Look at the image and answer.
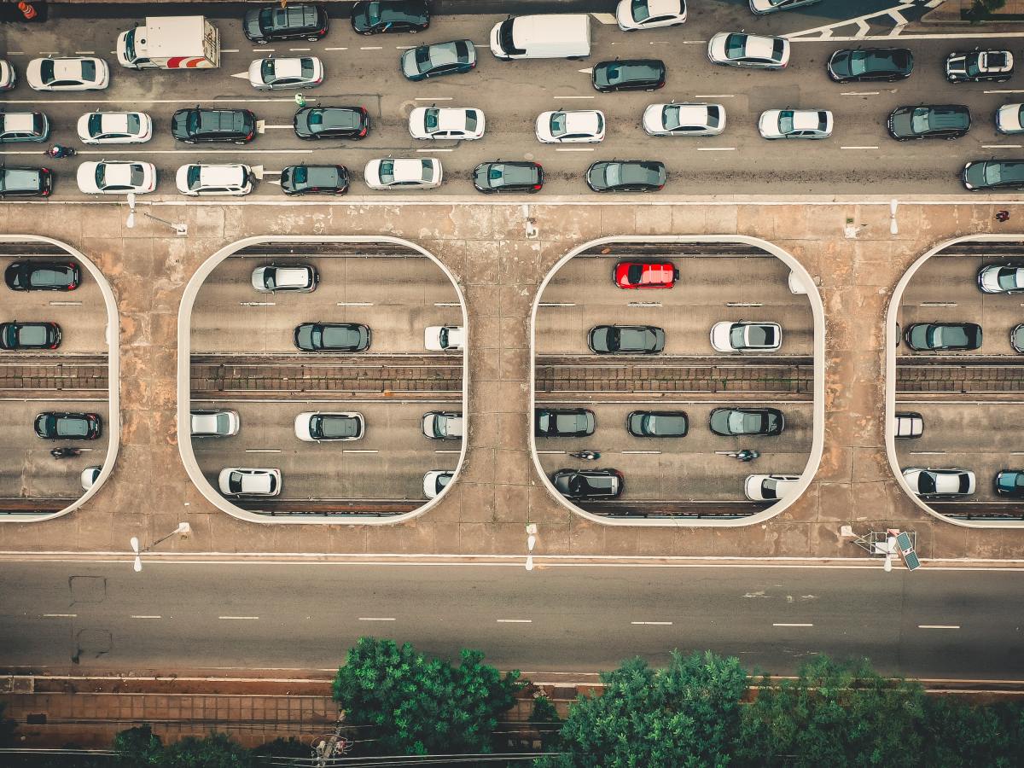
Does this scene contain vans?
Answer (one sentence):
Yes, I can see a van in this picture.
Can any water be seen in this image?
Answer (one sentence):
No, the picture contains no water.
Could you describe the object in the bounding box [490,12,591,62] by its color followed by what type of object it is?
white van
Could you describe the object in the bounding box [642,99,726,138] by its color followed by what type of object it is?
white car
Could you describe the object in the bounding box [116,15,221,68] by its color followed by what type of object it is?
white truck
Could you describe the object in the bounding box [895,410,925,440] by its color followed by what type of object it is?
white car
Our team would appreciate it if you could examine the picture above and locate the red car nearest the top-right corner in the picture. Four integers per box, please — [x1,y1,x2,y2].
[614,257,678,292]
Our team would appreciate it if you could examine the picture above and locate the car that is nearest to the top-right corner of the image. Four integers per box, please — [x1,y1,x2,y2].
[944,45,1015,84]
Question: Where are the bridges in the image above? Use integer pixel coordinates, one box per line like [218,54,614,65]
[0,204,1024,562]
